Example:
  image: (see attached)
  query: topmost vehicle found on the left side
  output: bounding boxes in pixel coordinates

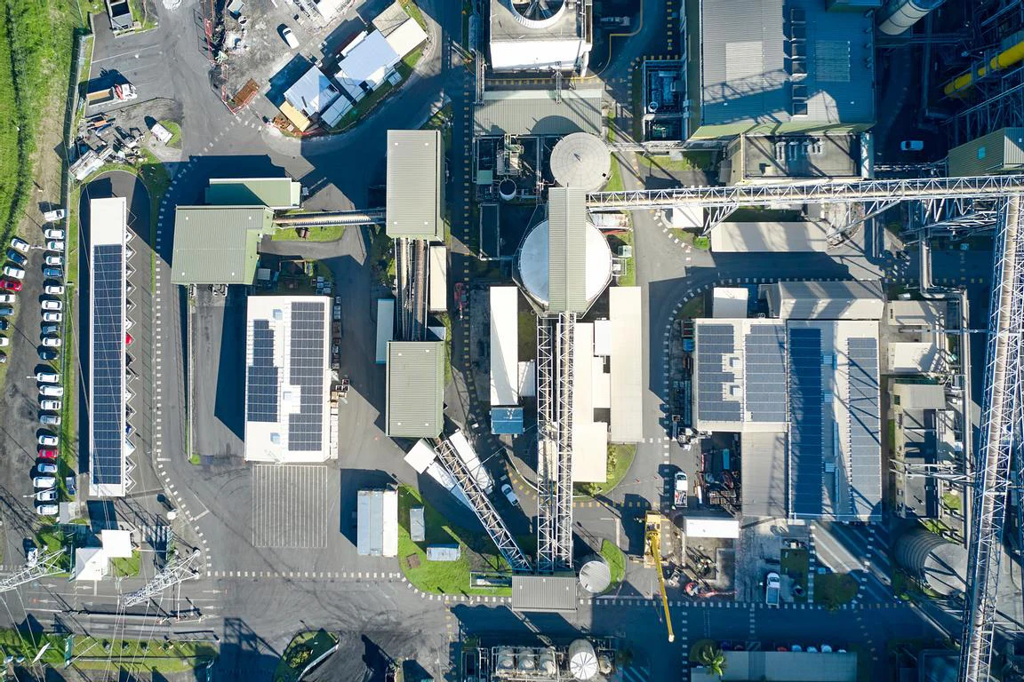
[278,24,297,48]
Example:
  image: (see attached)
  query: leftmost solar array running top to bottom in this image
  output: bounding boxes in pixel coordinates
[93,245,122,484]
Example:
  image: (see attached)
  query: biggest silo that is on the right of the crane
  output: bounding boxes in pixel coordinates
[890,529,970,593]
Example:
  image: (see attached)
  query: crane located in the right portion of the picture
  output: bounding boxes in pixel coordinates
[628,513,674,641]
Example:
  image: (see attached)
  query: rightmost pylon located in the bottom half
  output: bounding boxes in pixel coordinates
[104,549,200,614]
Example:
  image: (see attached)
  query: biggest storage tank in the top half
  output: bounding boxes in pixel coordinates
[512,186,613,320]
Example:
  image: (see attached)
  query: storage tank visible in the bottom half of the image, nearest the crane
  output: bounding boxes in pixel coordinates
[575,549,611,593]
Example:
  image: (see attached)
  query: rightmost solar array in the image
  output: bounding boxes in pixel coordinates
[848,338,880,517]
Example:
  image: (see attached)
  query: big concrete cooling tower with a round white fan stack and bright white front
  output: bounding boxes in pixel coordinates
[490,0,596,69]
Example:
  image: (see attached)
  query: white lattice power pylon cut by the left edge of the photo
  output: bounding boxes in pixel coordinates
[0,546,67,593]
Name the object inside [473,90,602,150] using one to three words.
building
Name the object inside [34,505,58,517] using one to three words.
vehicle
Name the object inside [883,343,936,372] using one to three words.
shed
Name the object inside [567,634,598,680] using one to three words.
storage tank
